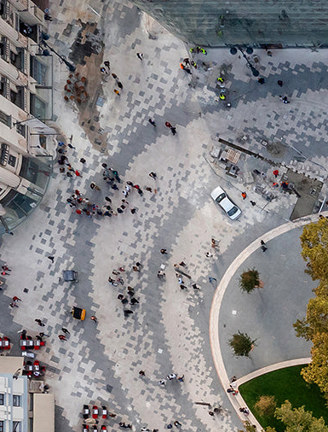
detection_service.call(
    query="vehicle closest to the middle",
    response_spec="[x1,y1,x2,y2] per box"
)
[210,184,245,223]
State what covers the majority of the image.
paved ground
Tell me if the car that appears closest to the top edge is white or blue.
white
